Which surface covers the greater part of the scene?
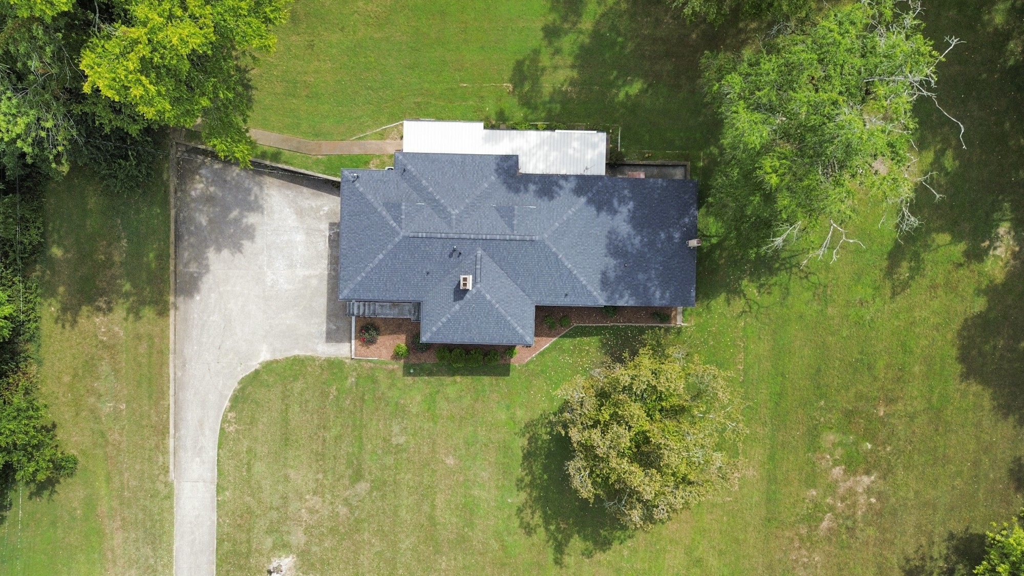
grass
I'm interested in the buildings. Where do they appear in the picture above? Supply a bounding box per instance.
[337,120,704,346]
